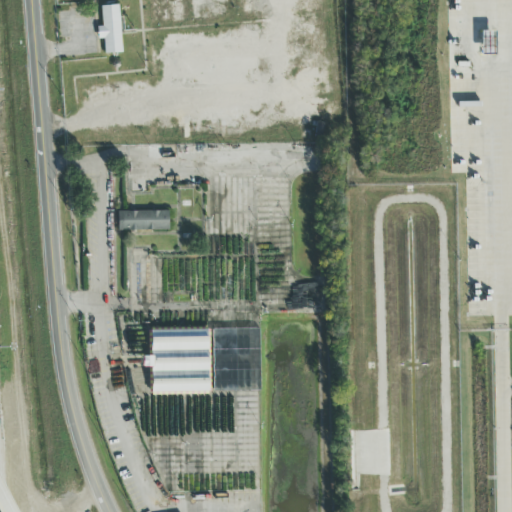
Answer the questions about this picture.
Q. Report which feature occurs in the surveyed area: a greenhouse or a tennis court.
greenhouse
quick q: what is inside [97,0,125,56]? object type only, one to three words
building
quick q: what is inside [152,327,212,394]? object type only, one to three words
greenhouse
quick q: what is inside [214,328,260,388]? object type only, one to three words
house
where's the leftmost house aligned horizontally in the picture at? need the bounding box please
[119,210,170,234]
